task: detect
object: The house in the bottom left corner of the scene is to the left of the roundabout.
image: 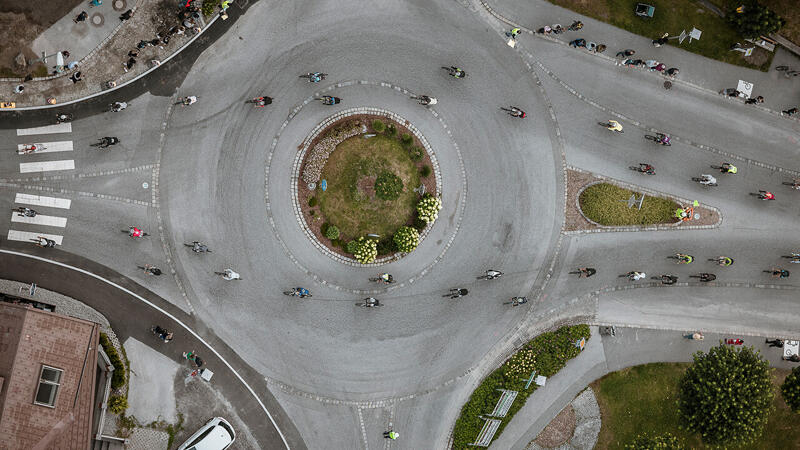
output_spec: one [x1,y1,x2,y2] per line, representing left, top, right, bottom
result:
[0,294,128,450]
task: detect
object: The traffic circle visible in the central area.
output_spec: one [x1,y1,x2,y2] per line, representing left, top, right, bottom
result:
[155,0,566,405]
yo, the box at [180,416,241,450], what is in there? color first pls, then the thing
white car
